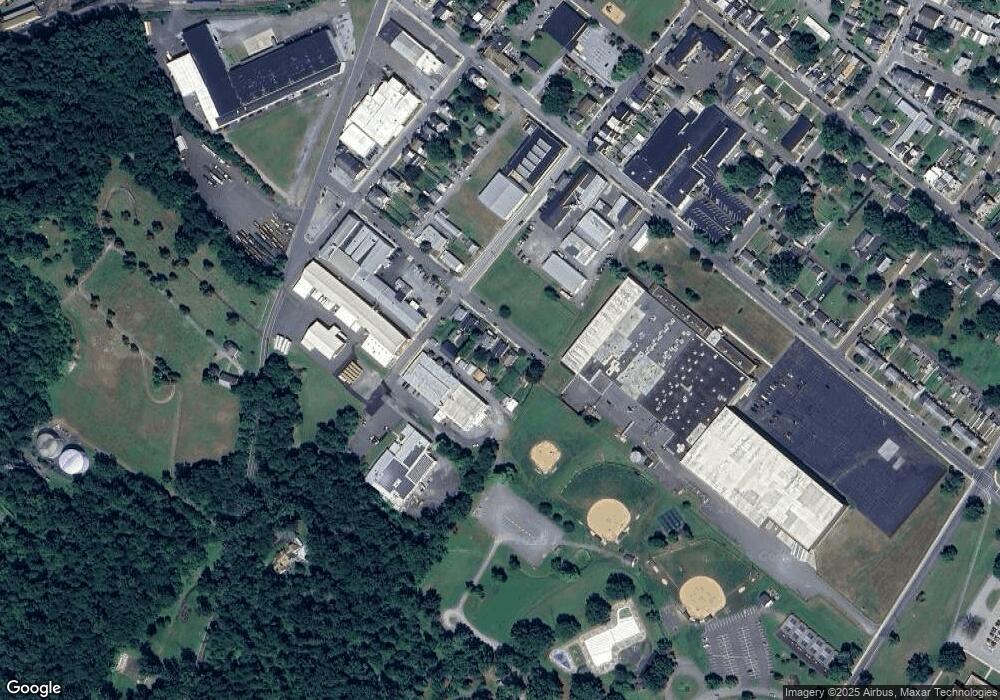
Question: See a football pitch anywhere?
No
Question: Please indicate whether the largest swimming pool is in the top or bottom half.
bottom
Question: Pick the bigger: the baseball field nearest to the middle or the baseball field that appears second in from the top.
the baseball field that appears second in from the top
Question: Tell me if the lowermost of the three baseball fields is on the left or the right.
right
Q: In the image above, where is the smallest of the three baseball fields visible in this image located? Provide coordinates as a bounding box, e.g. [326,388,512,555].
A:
[529,440,562,478]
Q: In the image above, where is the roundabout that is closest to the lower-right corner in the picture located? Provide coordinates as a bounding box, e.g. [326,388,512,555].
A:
[669,671,704,700]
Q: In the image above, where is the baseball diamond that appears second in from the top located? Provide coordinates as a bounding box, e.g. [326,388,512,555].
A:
[562,462,654,546]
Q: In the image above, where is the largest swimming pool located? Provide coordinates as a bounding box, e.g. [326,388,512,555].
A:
[580,598,646,677]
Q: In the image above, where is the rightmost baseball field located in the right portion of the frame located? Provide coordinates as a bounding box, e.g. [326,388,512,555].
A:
[647,543,755,623]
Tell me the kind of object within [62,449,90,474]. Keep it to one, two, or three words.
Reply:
water tank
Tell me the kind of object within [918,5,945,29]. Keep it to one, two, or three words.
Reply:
house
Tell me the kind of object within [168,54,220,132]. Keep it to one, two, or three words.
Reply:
shed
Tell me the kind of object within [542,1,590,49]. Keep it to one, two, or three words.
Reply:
building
